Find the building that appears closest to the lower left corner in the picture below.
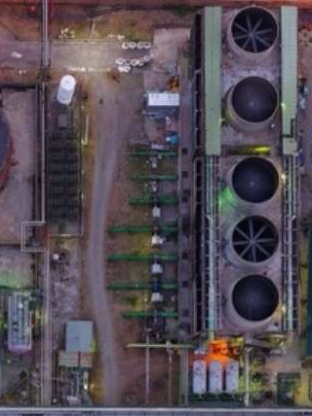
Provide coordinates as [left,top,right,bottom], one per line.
[58,352,91,369]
